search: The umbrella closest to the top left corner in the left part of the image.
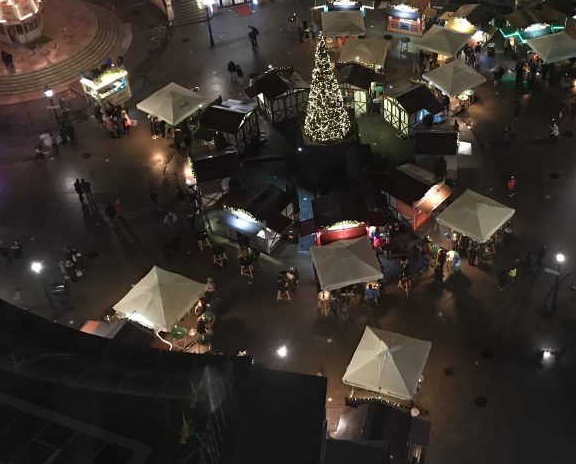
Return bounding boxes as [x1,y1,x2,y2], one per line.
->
[135,84,208,135]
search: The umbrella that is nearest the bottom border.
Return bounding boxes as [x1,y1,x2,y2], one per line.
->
[343,326,432,402]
